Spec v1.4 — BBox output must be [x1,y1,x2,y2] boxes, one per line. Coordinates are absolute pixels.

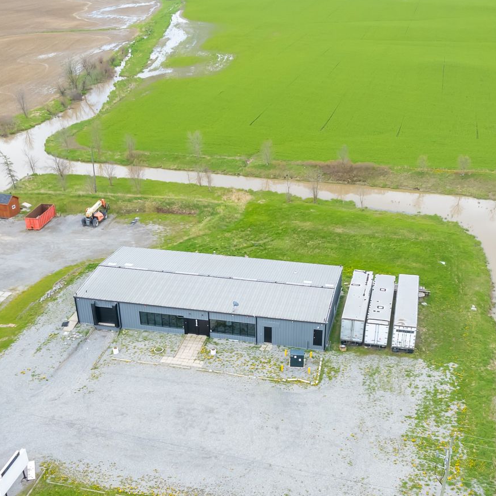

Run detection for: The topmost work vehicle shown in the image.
[84,195,109,225]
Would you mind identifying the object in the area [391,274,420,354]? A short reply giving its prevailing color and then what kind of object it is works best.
white trailer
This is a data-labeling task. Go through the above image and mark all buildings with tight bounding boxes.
[71,246,344,352]
[0,194,21,218]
